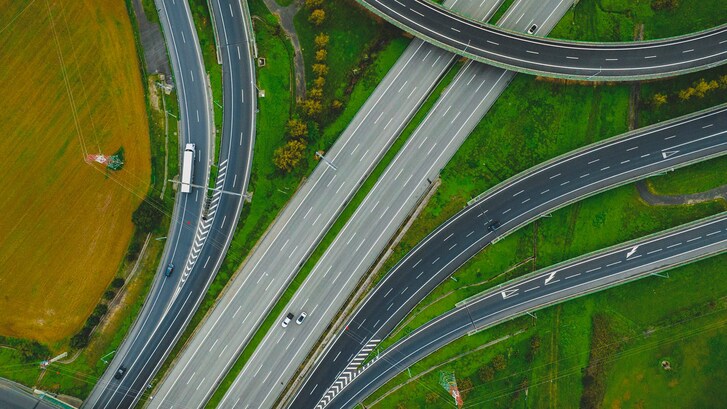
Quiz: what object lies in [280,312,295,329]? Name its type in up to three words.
vehicle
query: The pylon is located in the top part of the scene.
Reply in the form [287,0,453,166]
[80,151,119,168]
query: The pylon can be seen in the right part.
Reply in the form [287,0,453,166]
[438,368,466,406]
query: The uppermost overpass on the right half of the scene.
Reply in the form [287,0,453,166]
[349,0,727,82]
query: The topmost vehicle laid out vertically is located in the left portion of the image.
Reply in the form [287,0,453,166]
[179,142,193,192]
